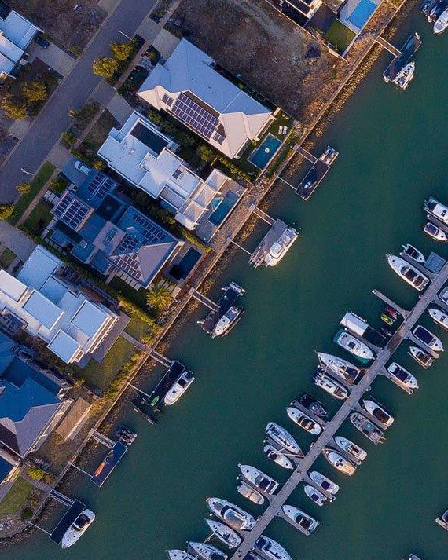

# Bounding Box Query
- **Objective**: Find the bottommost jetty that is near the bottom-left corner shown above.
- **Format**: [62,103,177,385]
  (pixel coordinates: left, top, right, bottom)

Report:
[28,485,86,544]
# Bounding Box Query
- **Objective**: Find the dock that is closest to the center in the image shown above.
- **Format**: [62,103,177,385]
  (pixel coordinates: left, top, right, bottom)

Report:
[186,284,244,331]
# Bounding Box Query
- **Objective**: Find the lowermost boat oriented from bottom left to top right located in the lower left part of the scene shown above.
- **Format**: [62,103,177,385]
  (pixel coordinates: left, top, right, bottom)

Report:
[63,505,99,549]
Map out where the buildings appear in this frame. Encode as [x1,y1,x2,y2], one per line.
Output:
[0,332,94,459]
[0,10,46,87]
[52,169,187,292]
[0,245,133,365]
[98,110,235,231]
[137,38,283,162]
[275,0,350,23]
